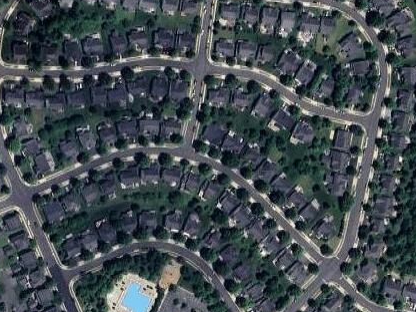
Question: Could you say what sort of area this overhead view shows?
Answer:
residential area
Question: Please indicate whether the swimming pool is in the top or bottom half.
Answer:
bottom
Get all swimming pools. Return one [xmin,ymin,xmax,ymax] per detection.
[107,273,157,312]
